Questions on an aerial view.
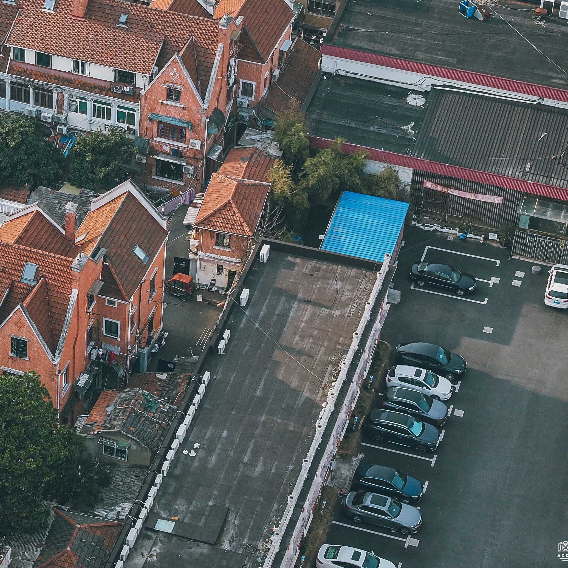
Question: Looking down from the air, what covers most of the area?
buildings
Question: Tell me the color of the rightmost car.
white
